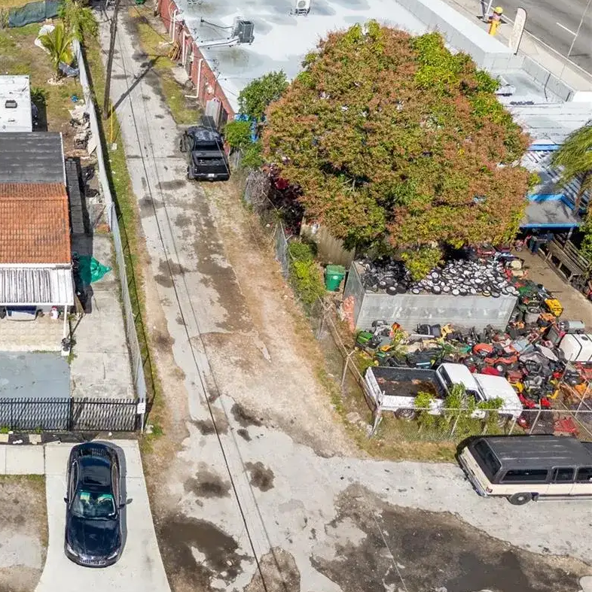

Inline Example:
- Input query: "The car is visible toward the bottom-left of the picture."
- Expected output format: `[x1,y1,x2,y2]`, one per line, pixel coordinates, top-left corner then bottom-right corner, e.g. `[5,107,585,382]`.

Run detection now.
[64,451,129,568]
